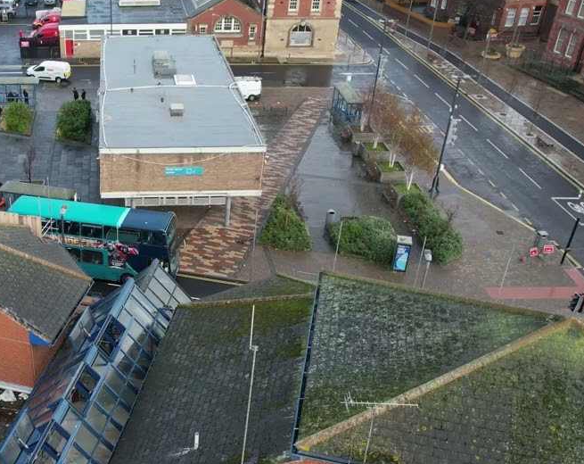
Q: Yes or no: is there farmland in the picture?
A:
No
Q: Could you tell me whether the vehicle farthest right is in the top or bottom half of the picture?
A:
top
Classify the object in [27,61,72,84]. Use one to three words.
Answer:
vehicle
